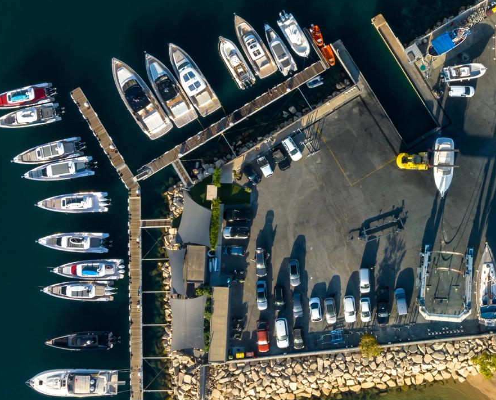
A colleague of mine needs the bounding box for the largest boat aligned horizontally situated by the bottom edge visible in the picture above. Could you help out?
[26,371,125,397]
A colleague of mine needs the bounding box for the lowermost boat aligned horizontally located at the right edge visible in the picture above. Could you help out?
[439,63,487,82]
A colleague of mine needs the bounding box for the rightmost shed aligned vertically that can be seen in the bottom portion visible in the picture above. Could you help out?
[209,284,233,363]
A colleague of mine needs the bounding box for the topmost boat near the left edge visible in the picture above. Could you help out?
[0,83,60,108]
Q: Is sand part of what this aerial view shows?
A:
Yes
